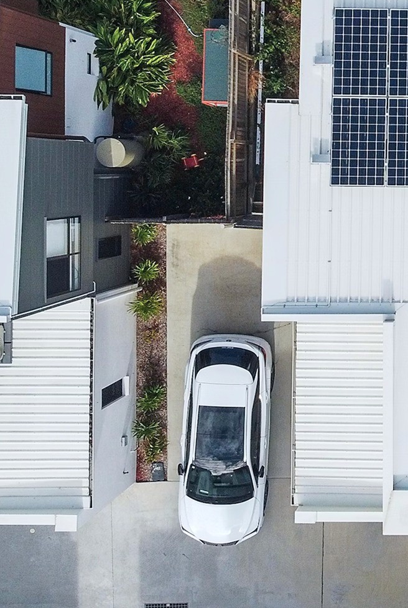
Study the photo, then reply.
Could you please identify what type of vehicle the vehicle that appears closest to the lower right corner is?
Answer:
automobile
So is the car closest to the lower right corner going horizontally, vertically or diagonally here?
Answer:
vertically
